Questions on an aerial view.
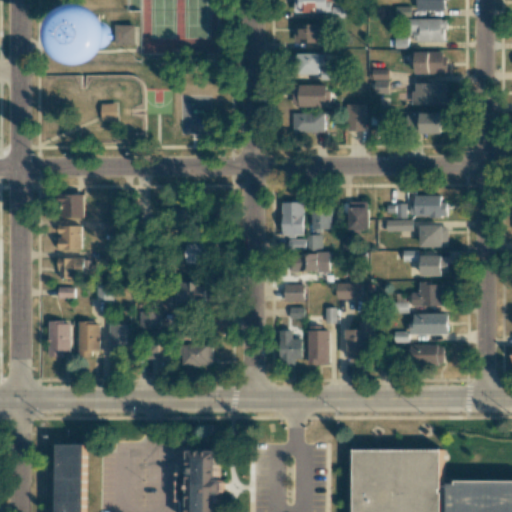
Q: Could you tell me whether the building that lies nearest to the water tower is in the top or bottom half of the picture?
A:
top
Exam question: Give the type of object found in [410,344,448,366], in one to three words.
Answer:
house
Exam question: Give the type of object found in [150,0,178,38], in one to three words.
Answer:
tennis court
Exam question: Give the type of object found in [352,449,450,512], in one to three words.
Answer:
building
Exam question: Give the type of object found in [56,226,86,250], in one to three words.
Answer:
house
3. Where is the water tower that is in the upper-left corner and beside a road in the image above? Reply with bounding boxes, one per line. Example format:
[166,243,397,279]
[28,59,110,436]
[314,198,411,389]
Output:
[42,3,114,64]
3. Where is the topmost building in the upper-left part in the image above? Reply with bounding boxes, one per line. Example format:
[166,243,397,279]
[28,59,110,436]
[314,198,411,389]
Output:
[115,26,142,46]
